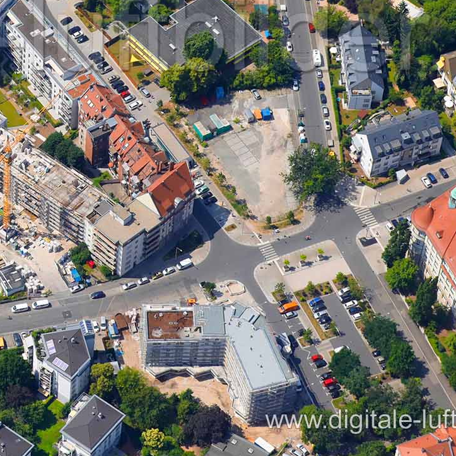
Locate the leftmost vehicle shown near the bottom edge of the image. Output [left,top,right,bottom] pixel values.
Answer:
[250,429,281,456]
